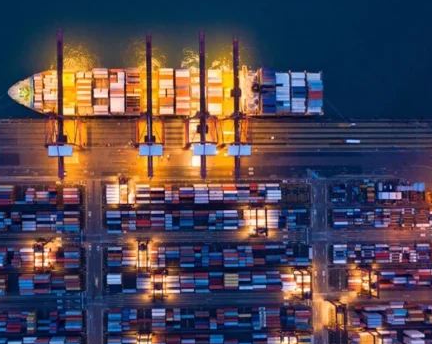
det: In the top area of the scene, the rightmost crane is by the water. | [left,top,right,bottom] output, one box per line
[212,36,253,181]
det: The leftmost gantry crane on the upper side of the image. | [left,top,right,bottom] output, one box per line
[44,31,84,181]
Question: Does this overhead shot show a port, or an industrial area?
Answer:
port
